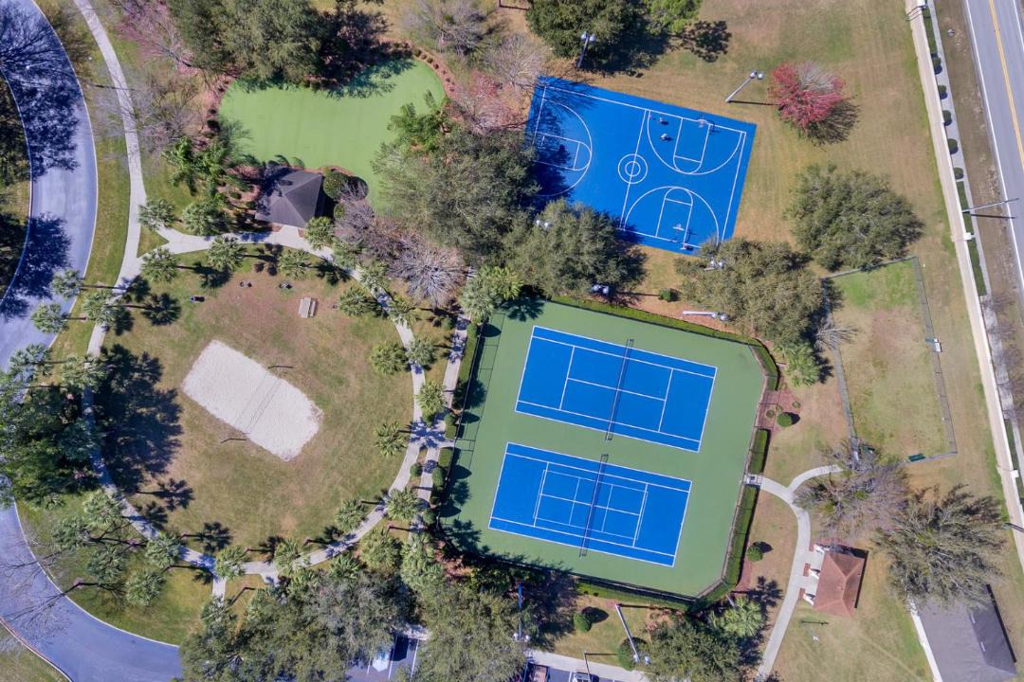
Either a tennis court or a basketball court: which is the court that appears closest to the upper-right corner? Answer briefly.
basketball court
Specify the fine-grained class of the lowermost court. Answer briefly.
tennis court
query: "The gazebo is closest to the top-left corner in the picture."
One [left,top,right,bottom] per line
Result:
[255,165,324,228]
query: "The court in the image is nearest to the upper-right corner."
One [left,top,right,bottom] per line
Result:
[509,75,758,259]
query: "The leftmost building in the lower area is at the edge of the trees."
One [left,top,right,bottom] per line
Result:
[800,542,865,618]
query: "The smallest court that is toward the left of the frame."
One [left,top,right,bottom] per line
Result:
[180,338,326,464]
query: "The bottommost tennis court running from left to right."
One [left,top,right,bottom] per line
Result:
[489,443,692,566]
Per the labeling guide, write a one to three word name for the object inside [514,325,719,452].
tennis court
